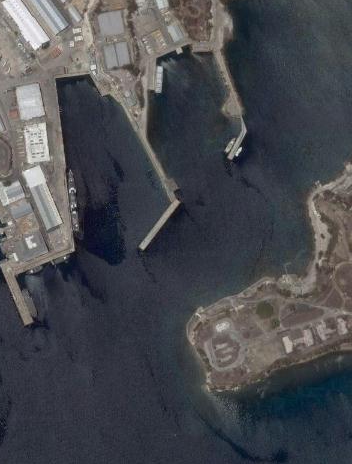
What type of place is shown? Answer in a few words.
port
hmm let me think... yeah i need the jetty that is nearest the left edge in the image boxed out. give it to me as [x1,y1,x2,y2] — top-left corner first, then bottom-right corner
[0,259,33,326]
